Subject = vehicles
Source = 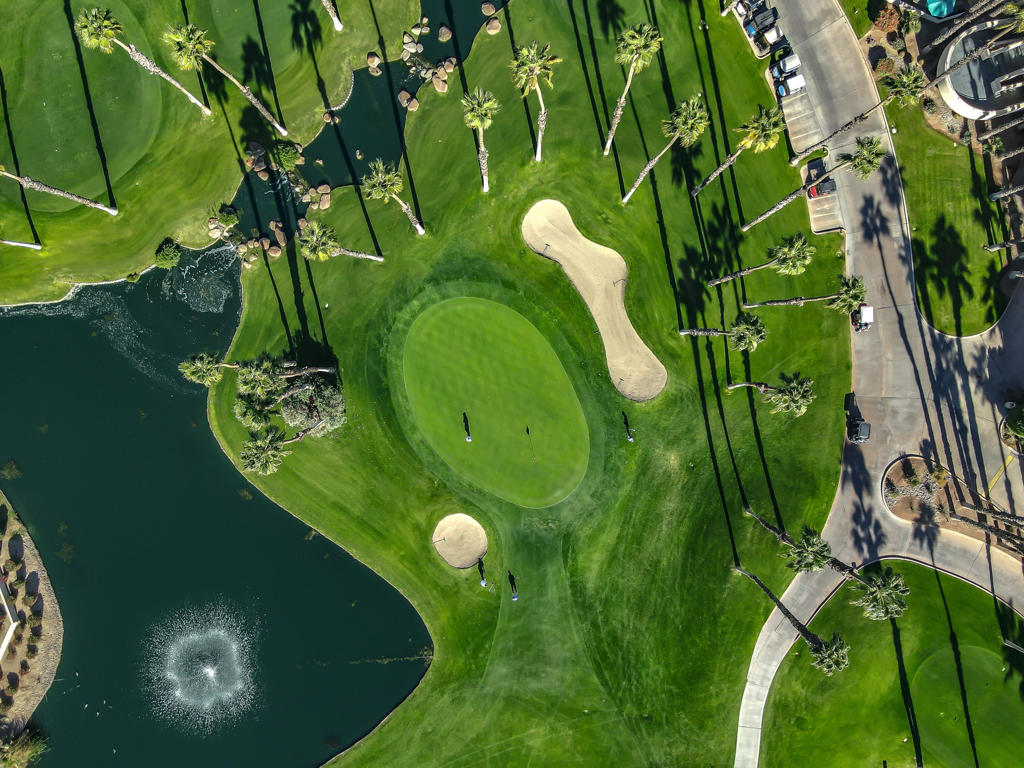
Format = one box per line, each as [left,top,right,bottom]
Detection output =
[743,12,773,39]
[769,57,800,82]
[753,26,783,52]
[732,0,760,16]
[851,304,873,326]
[775,76,805,101]
[806,181,835,201]
[849,416,872,441]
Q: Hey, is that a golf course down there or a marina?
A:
golf course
